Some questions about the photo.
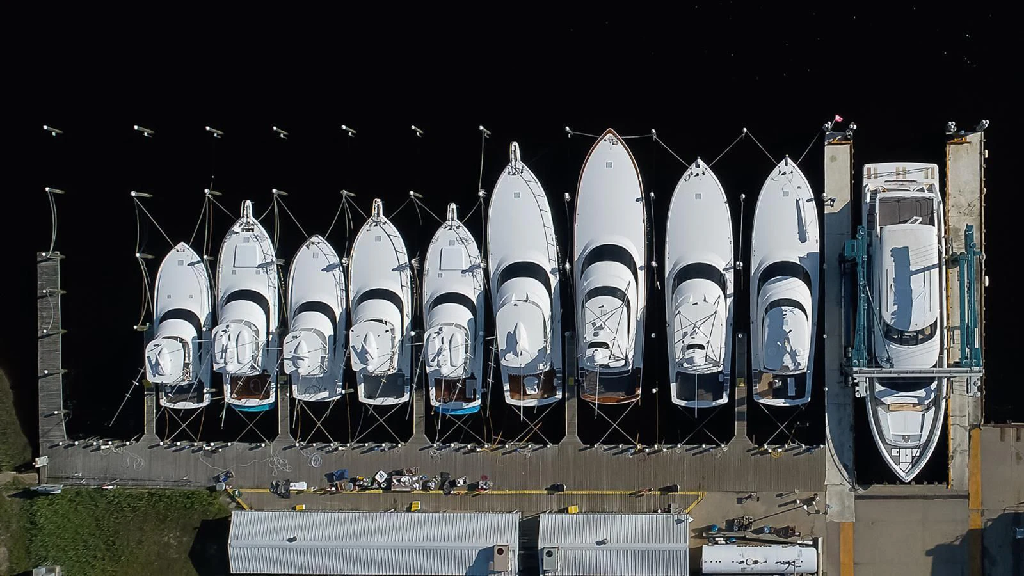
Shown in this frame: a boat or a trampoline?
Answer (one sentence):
There is a boat in the scene.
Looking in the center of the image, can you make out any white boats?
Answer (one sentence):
Yes, you'll find a white boat in the center of the image.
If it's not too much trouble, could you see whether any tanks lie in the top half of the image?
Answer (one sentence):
No, I can find no tank in the top half of the image.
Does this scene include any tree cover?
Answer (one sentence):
No, the picture contains no tree cover.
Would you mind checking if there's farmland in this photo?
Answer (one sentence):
No, no farmland is visible.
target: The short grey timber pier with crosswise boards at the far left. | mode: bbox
[38,253,68,444]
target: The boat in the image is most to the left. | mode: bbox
[111,242,215,424]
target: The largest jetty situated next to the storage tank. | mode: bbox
[39,443,826,491]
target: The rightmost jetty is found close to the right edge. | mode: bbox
[945,133,988,492]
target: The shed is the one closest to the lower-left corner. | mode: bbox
[224,508,520,575]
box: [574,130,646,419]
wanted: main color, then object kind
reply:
white boat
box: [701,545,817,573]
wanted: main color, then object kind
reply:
white storage tank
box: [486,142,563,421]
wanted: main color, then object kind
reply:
white boat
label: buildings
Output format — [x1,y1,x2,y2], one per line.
[537,511,690,576]
[224,508,520,575]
